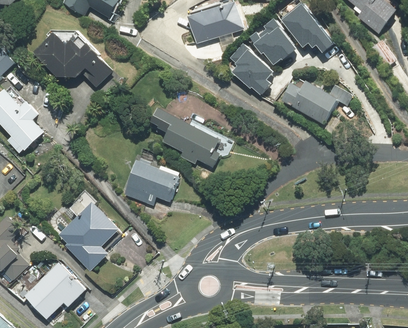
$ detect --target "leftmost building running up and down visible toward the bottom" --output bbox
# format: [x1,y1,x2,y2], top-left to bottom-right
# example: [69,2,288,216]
[0,217,30,284]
